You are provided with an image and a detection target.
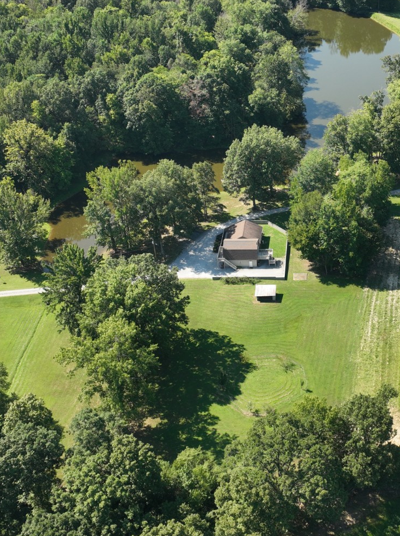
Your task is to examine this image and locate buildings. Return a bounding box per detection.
[216,220,276,270]
[255,285,276,301]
